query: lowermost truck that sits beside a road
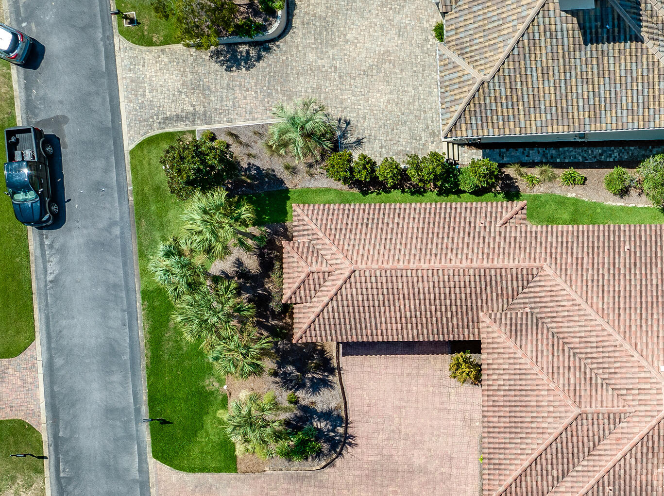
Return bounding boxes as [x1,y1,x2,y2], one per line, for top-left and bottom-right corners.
[4,121,62,228]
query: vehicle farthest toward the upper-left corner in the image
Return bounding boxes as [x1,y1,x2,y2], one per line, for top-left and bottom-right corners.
[0,20,38,65]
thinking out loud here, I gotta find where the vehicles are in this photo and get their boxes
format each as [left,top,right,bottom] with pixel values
[0,20,38,65]
[4,121,62,228]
